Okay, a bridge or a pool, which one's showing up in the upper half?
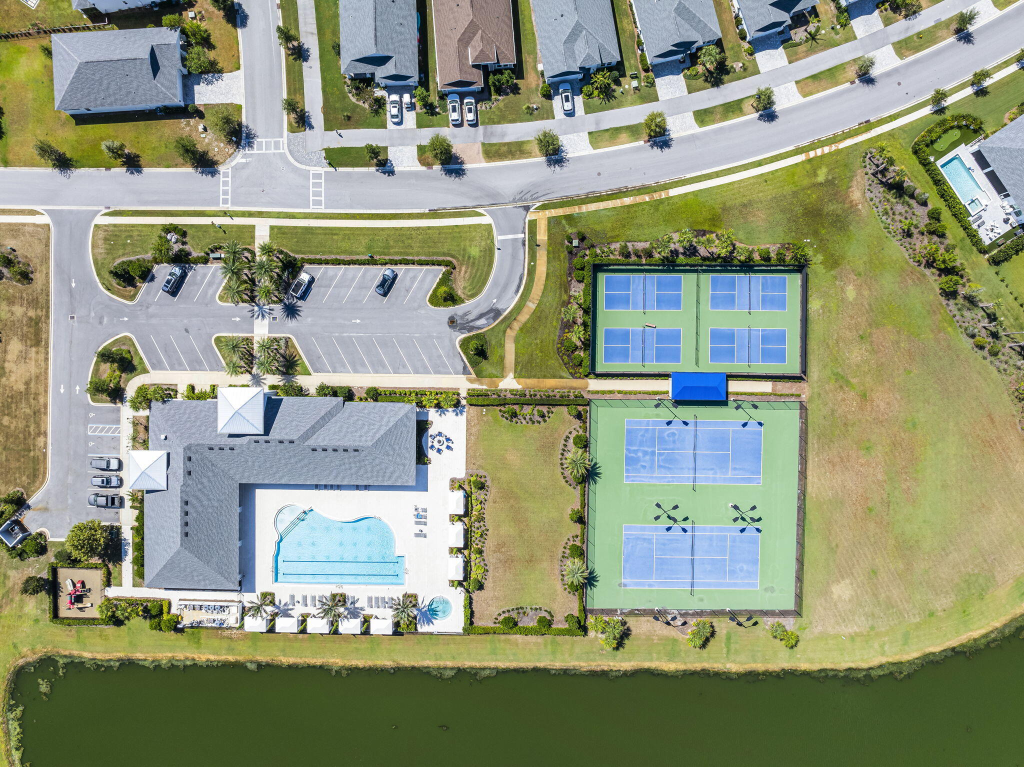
pool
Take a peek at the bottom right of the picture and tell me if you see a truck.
No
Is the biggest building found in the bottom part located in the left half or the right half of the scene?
left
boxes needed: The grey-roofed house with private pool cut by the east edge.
[960,116,1024,230]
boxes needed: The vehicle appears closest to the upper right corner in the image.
[559,84,573,114]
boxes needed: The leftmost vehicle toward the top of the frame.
[161,265,186,295]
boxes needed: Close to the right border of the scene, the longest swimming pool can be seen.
[937,151,995,210]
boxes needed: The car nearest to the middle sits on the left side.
[376,268,397,297]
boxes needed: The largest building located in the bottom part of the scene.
[129,387,416,590]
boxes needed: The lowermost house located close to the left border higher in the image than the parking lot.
[51,27,194,114]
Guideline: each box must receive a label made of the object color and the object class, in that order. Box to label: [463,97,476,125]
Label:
white vehicle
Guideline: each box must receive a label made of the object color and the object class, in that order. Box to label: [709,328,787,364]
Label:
blue sports court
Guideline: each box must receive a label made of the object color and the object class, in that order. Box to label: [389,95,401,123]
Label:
white vehicle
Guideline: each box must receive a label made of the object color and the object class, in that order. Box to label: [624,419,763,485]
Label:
blue tennis court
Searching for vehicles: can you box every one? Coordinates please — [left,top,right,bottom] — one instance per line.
[463,97,476,125]
[290,271,314,300]
[389,95,401,123]
[89,494,122,508]
[91,475,122,488]
[402,93,411,111]
[90,457,123,471]
[559,84,573,114]
[376,268,397,297]
[448,95,461,125]
[161,265,186,295]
